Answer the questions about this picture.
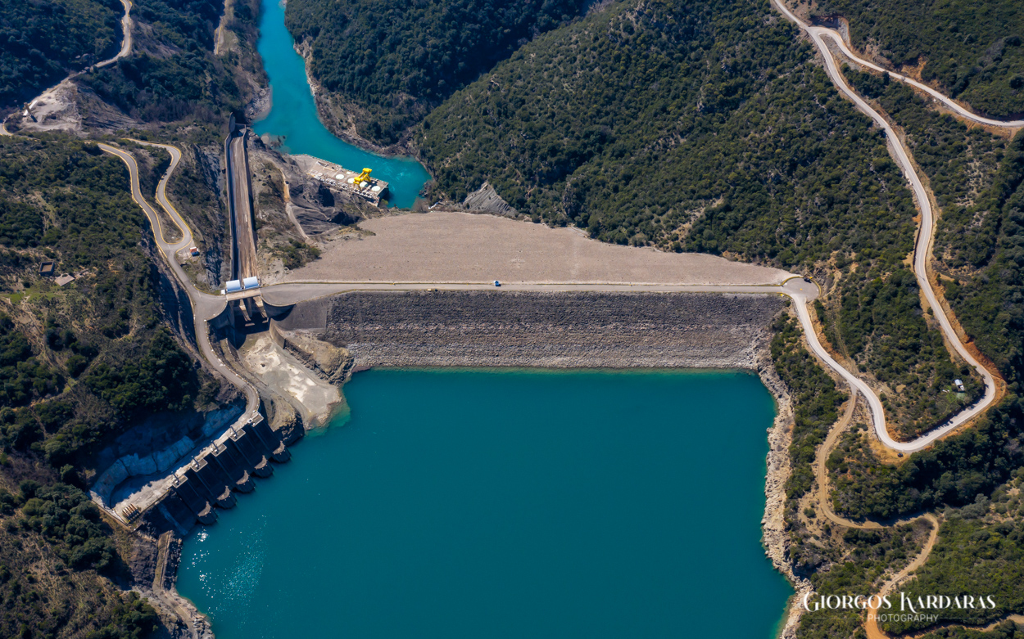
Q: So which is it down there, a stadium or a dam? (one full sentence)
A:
Visible in the photo is a dam.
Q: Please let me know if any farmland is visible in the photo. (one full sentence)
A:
No, there is no farmland in the image.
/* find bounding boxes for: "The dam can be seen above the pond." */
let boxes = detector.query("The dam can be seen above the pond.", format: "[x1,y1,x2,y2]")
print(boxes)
[261,212,789,372]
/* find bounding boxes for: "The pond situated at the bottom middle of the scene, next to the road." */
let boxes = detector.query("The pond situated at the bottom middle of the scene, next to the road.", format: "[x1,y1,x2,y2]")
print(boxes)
[178,368,790,639]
